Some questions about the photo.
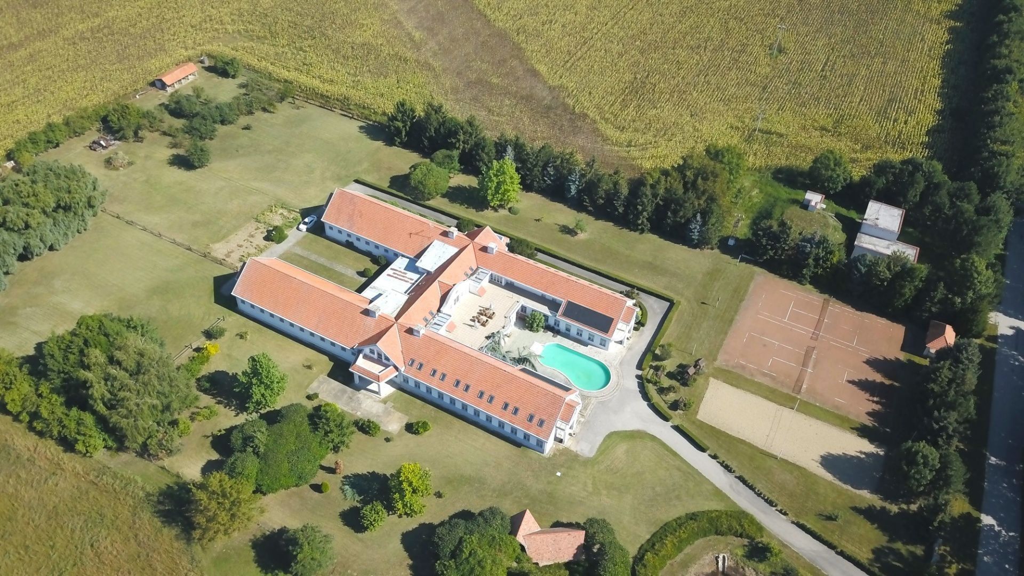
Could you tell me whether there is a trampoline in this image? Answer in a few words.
No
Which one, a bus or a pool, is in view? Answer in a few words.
pool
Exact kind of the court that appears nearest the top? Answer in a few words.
tennis court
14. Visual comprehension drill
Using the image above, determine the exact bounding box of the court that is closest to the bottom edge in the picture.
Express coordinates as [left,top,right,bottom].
[697,378,887,499]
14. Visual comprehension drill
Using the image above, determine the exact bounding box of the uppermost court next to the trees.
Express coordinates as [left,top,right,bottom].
[722,274,907,425]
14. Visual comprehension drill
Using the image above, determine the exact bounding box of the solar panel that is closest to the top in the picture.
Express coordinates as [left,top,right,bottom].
[562,299,614,332]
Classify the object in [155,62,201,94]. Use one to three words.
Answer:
shed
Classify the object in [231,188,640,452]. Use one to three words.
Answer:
building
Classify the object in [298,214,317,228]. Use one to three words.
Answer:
car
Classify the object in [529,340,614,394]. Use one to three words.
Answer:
swimming pool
